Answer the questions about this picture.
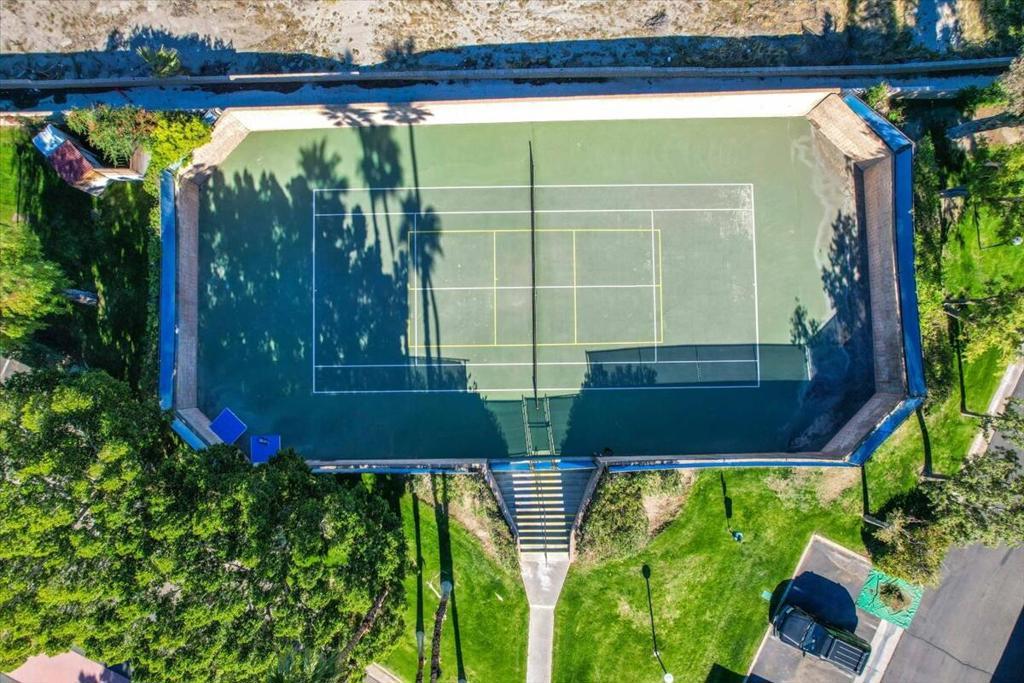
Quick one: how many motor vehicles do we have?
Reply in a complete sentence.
Altogether the scene contains 1 motor vehicle.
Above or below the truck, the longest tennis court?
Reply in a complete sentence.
Relative to the truck, the longest tennis court lies above it.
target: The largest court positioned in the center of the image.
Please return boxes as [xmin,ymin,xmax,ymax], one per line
[196,117,875,462]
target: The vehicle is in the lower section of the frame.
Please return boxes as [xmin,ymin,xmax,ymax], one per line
[764,595,880,681]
